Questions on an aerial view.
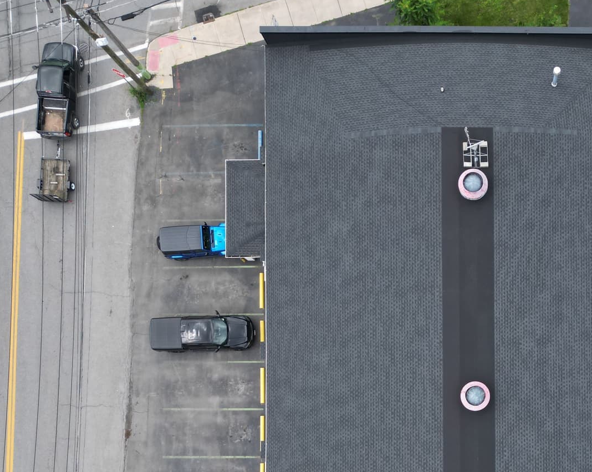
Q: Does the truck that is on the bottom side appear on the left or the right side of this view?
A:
left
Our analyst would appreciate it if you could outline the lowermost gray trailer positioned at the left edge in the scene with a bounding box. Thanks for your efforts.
[27,141,78,204]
